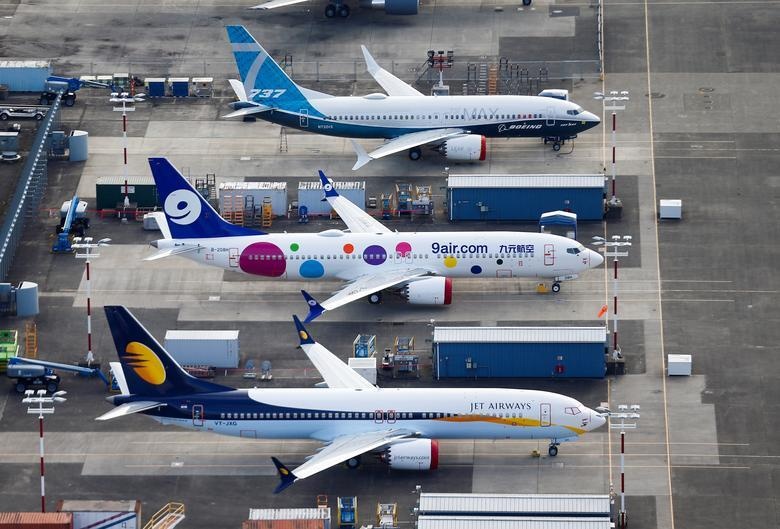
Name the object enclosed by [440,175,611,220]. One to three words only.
shed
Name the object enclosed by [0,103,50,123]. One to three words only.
vehicle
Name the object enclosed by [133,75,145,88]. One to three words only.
vehicle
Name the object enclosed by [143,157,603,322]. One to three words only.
airplane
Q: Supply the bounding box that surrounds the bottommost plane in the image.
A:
[99,306,607,494]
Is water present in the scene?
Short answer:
No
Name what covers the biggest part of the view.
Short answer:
paved ground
